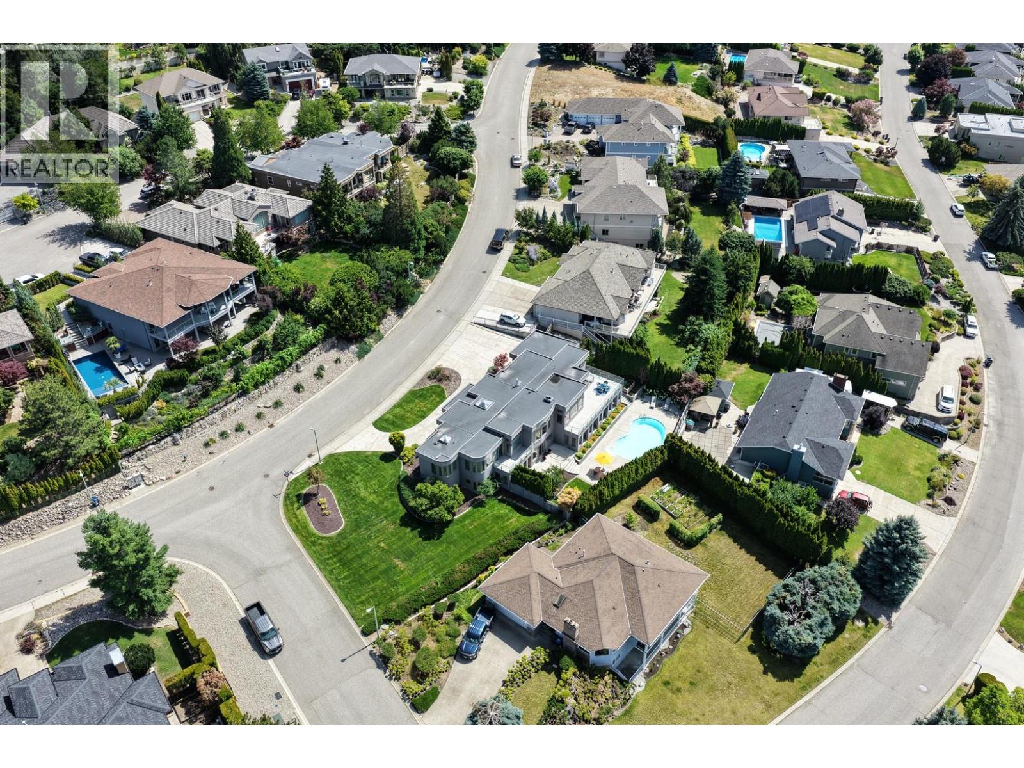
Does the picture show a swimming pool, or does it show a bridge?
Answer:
swimming pool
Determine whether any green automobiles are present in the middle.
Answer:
No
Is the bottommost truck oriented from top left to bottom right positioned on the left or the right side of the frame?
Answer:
left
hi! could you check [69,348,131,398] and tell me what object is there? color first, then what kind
blue swimming pool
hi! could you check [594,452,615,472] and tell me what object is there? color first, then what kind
yellow umbrella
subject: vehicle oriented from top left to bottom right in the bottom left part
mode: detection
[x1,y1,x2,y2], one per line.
[240,600,282,653]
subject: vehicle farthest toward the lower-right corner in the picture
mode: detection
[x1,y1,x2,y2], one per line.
[834,489,877,514]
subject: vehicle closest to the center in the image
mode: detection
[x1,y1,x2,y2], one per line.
[495,307,529,330]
